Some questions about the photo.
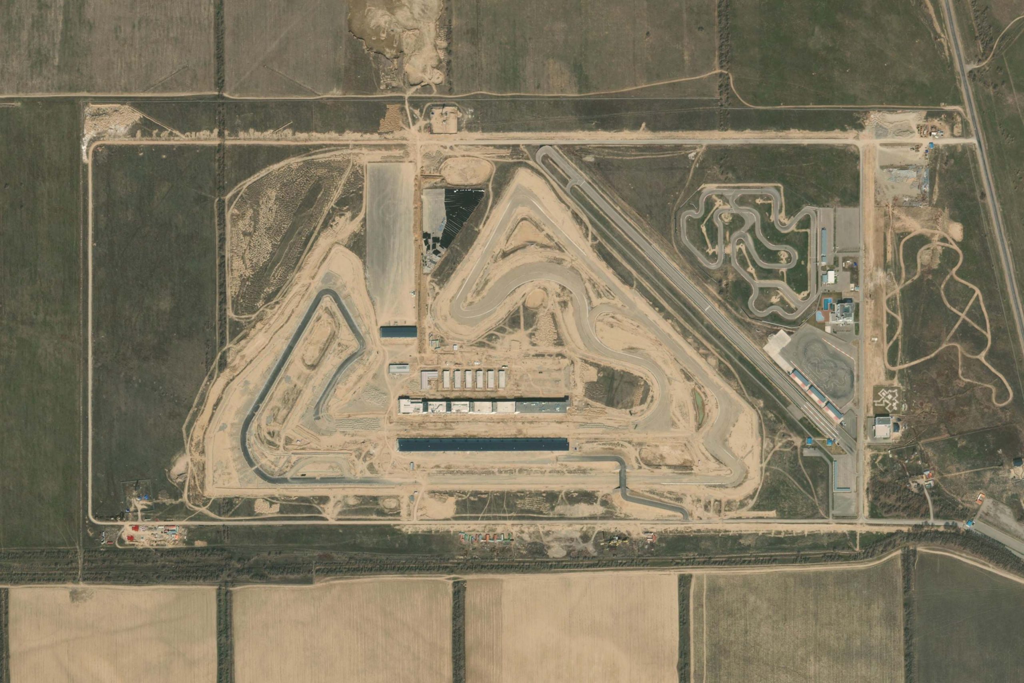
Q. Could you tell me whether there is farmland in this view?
Yes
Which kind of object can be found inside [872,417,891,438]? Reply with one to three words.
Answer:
building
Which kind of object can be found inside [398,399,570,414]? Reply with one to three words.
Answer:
building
